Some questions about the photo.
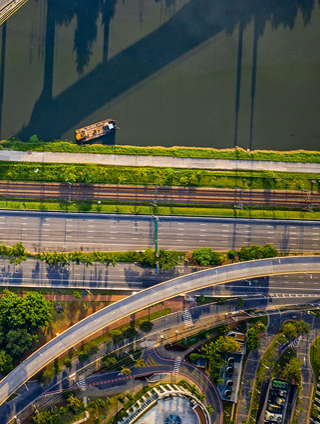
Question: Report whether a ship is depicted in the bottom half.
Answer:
No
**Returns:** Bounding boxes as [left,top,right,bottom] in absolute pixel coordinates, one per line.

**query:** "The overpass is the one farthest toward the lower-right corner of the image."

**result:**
[0,254,320,408]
